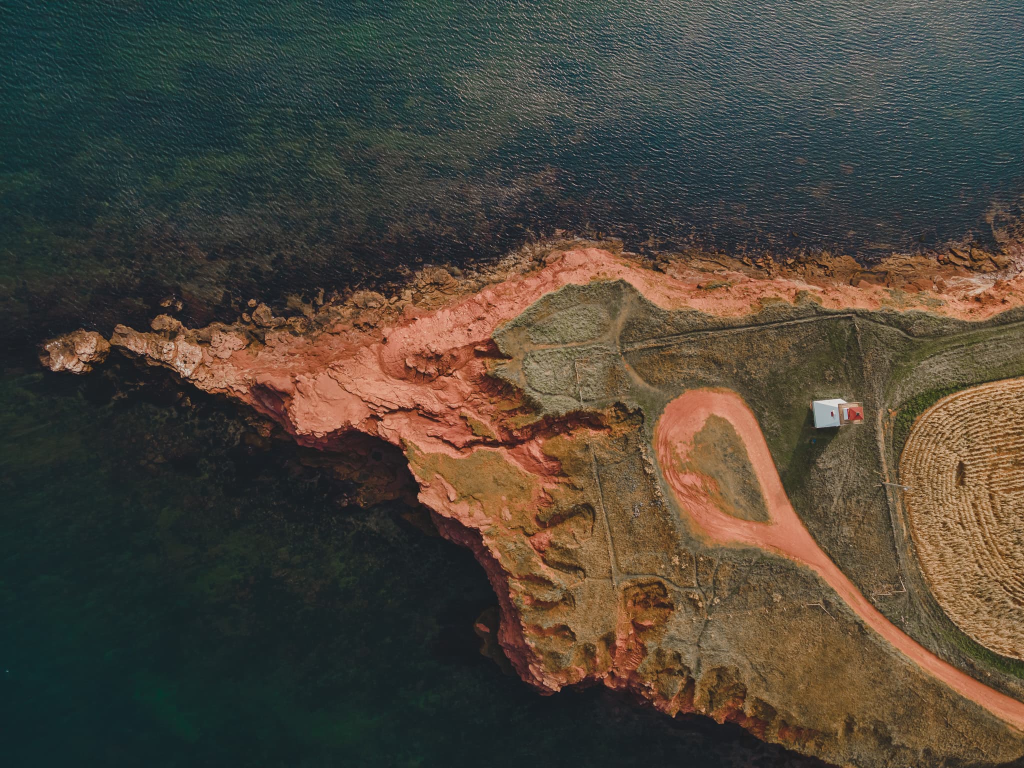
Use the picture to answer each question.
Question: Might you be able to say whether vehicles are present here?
No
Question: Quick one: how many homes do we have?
0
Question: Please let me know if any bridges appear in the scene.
No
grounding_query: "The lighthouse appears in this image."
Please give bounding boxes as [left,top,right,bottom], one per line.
[812,398,866,429]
